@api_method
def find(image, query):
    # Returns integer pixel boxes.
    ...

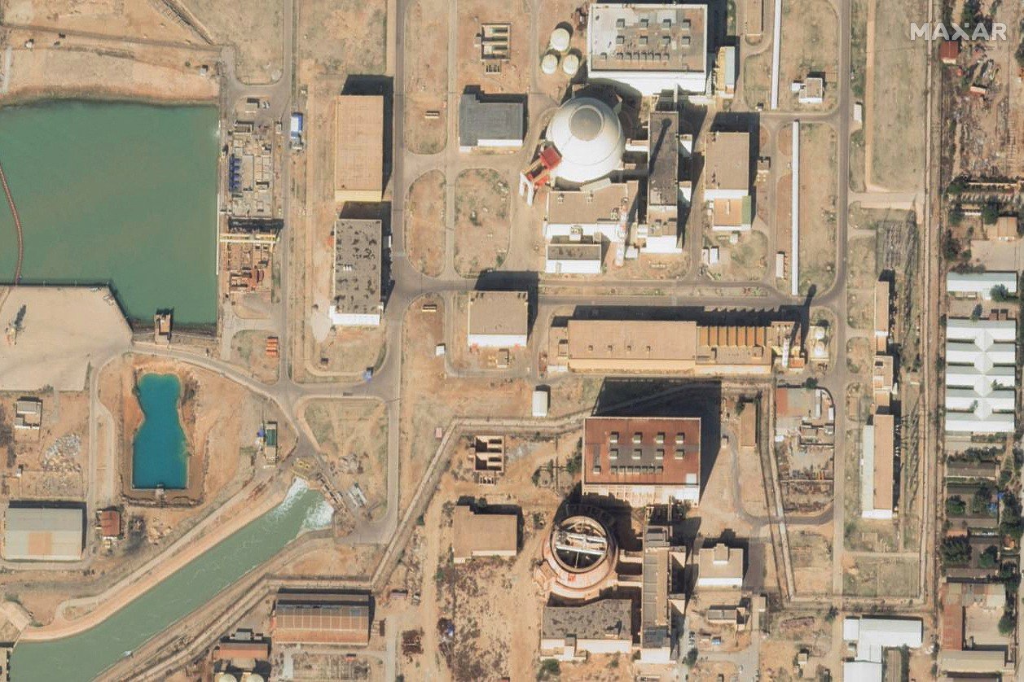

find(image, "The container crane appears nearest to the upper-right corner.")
[519,146,560,206]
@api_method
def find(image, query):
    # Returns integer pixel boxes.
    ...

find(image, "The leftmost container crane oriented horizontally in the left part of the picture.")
[219,233,278,258]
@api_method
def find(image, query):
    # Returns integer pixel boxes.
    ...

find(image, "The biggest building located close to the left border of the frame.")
[4,508,83,560]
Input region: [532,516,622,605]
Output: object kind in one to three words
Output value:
building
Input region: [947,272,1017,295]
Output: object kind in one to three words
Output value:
shed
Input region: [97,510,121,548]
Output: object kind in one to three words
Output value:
house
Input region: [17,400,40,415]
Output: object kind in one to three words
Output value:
building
